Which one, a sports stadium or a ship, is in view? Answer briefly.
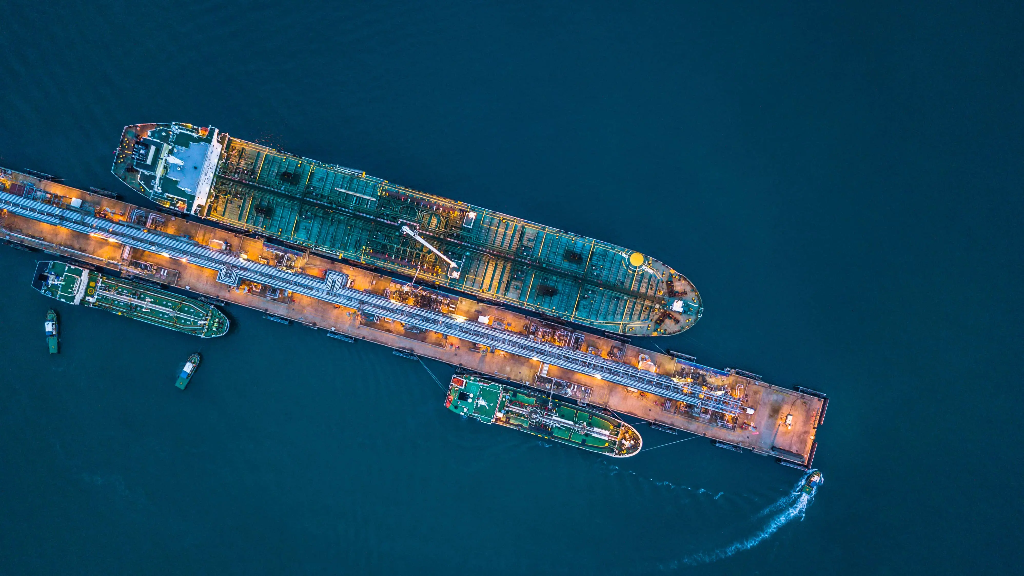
ship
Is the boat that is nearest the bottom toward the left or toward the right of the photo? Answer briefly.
right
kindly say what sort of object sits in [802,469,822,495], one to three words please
boat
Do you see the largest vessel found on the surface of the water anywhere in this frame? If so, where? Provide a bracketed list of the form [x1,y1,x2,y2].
[110,122,704,336]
